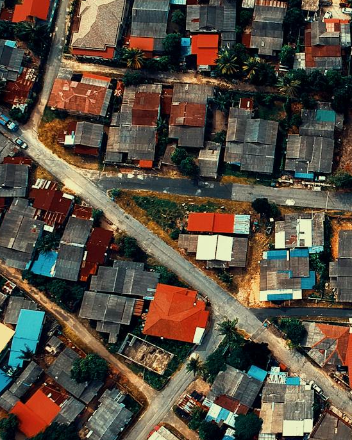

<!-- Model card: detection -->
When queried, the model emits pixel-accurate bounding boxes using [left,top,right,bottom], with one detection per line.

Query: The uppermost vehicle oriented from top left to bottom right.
[0,113,15,132]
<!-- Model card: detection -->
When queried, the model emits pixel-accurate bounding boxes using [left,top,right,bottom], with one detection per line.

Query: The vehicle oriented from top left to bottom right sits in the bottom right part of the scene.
[311,384,327,398]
